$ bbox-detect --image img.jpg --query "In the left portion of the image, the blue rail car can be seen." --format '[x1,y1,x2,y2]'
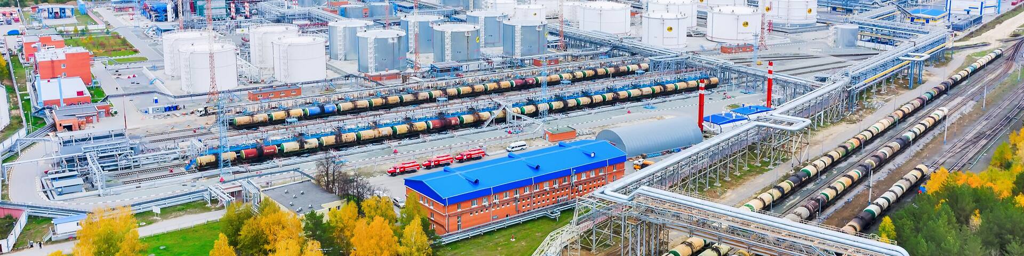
[305,101,340,119]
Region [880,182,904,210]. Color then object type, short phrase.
white rail car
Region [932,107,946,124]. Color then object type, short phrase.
white rail car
